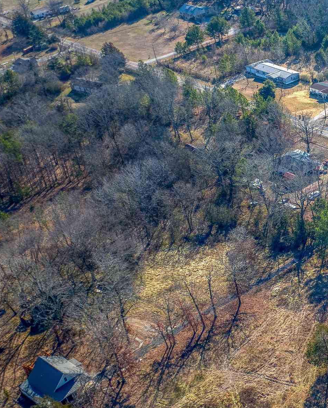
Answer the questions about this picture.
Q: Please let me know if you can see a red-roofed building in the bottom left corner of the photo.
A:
No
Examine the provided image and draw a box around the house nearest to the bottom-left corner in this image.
[20,356,103,408]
